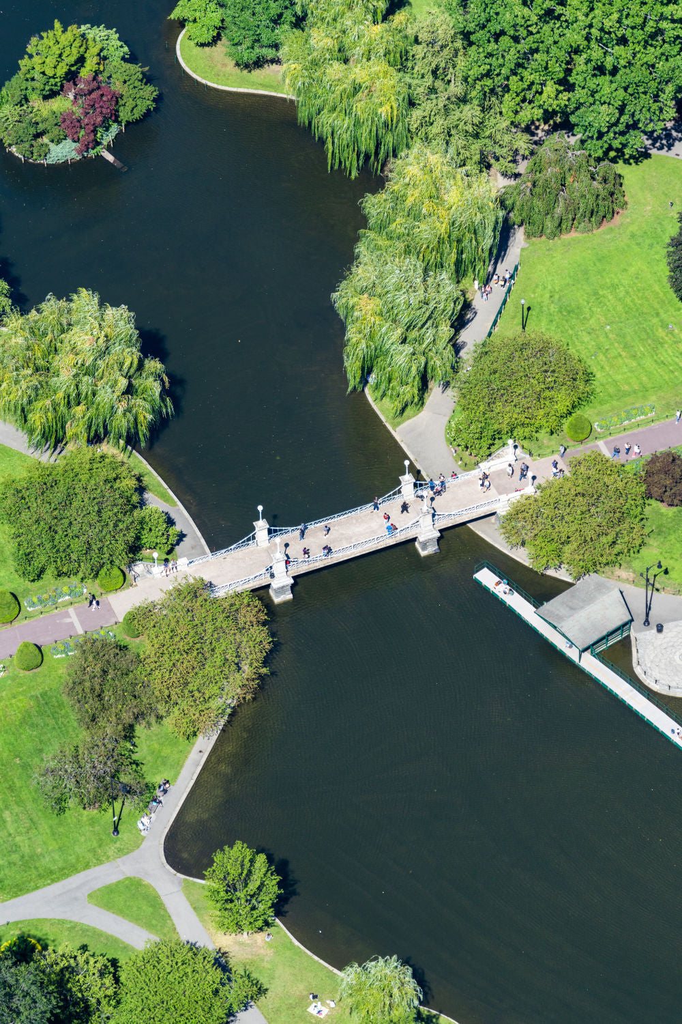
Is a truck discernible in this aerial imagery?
No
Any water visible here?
Yes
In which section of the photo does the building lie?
right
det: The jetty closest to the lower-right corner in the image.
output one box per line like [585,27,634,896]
[472,560,682,753]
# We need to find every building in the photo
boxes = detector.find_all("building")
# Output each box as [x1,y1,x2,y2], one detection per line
[537,576,636,664]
